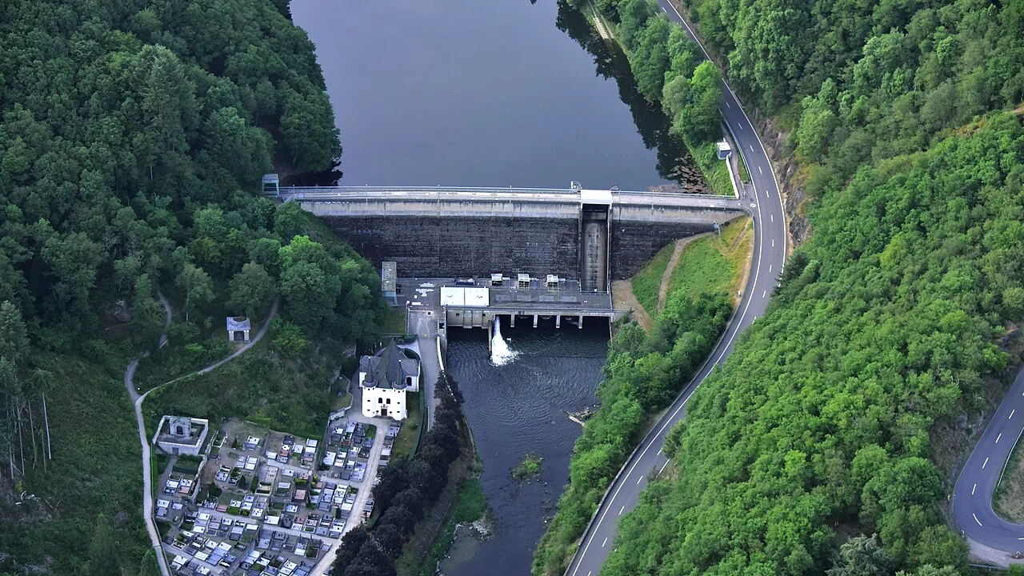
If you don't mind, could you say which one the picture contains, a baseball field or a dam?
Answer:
dam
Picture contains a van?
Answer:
No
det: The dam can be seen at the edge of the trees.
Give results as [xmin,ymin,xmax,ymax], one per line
[280,186,735,298]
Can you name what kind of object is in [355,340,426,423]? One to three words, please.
building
